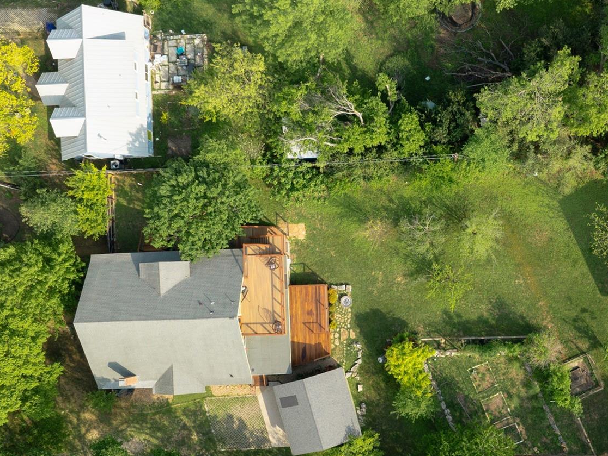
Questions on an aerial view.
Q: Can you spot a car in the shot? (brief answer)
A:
No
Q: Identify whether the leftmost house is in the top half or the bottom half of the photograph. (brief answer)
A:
top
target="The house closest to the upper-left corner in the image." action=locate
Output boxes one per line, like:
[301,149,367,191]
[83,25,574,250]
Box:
[36,0,161,163]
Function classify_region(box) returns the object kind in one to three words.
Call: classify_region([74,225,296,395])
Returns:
house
